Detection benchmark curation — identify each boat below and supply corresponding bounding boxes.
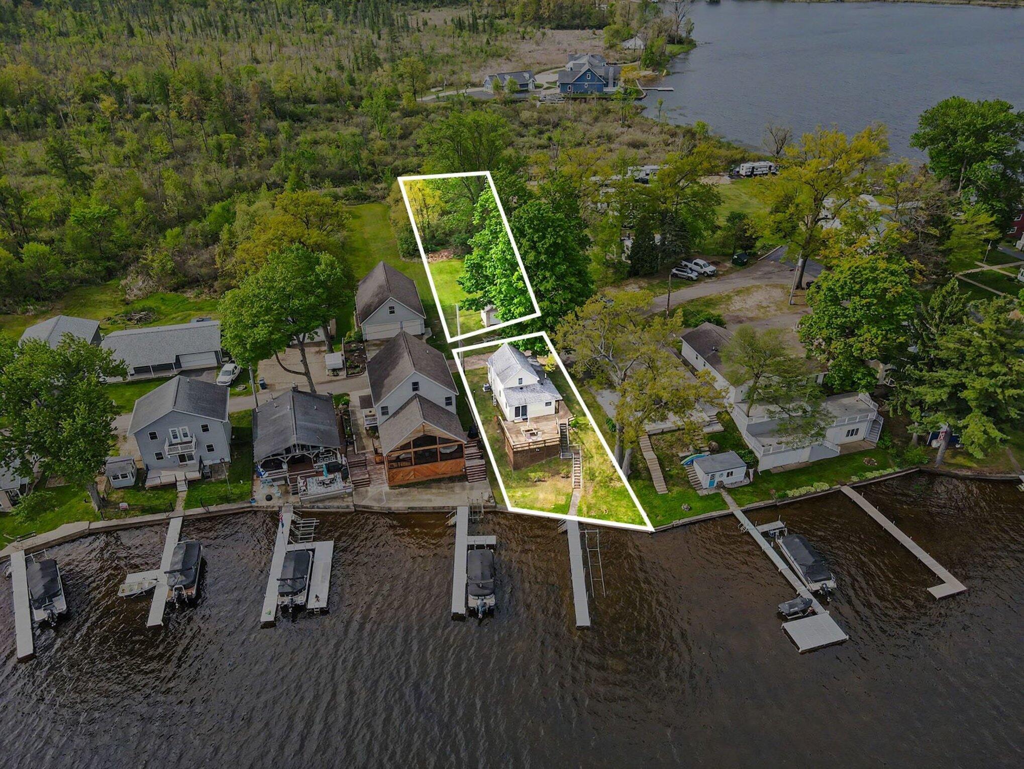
[27,551,67,628]
[777,597,813,614]
[277,549,313,616]
[118,577,156,595]
[166,541,205,609]
[779,535,836,601]
[465,547,495,619]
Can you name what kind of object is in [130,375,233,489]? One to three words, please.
house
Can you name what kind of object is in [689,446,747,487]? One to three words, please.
building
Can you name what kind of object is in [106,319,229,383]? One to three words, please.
barn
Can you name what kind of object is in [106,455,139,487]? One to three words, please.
shed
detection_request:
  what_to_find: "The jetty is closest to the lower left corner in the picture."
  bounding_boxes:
[9,550,36,661]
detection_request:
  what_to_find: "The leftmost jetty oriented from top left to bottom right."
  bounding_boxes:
[732,511,850,656]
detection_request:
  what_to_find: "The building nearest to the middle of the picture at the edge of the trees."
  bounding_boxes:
[487,342,563,420]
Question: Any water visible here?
Yes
